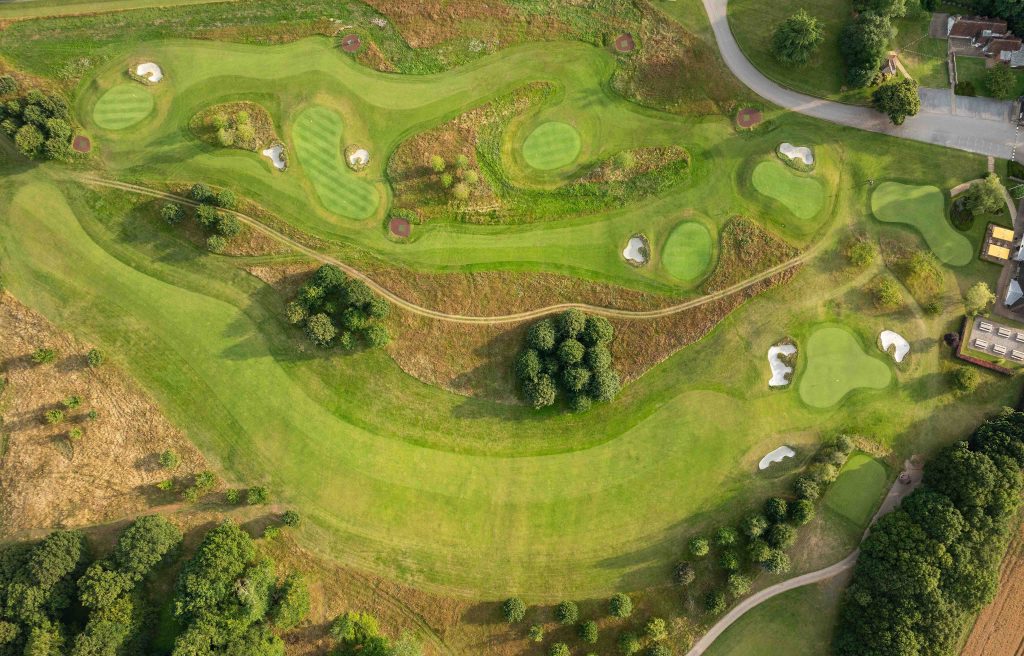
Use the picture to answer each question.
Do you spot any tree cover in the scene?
Yes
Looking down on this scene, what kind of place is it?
golf course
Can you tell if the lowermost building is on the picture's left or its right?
right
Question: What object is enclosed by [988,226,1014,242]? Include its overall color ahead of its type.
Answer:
yellow umbrella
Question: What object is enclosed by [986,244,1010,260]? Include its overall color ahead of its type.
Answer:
yellow umbrella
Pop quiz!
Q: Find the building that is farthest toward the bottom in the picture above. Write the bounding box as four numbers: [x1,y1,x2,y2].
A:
[996,264,1024,315]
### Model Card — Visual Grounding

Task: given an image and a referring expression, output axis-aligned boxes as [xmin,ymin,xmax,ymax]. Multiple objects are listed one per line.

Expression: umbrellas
[988,226,1014,242]
[986,244,1010,260]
